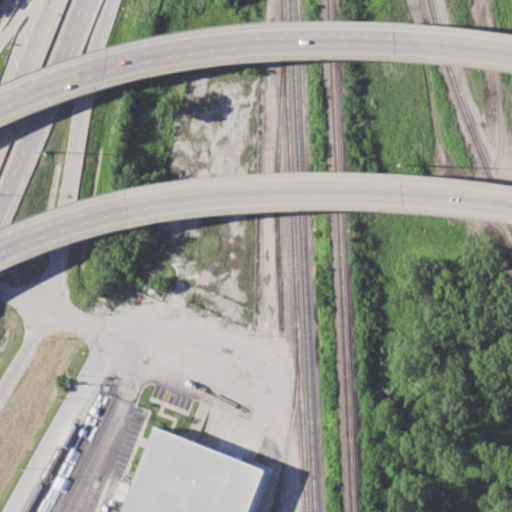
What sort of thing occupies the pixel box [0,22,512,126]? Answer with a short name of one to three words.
overpass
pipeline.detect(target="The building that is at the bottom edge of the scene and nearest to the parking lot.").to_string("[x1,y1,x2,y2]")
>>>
[119,426,265,512]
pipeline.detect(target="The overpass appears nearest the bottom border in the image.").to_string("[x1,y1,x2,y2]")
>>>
[0,173,512,270]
